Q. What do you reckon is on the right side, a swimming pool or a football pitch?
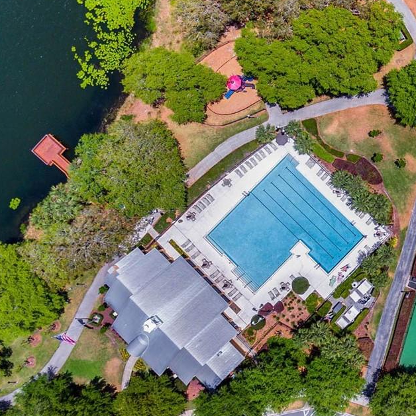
swimming pool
